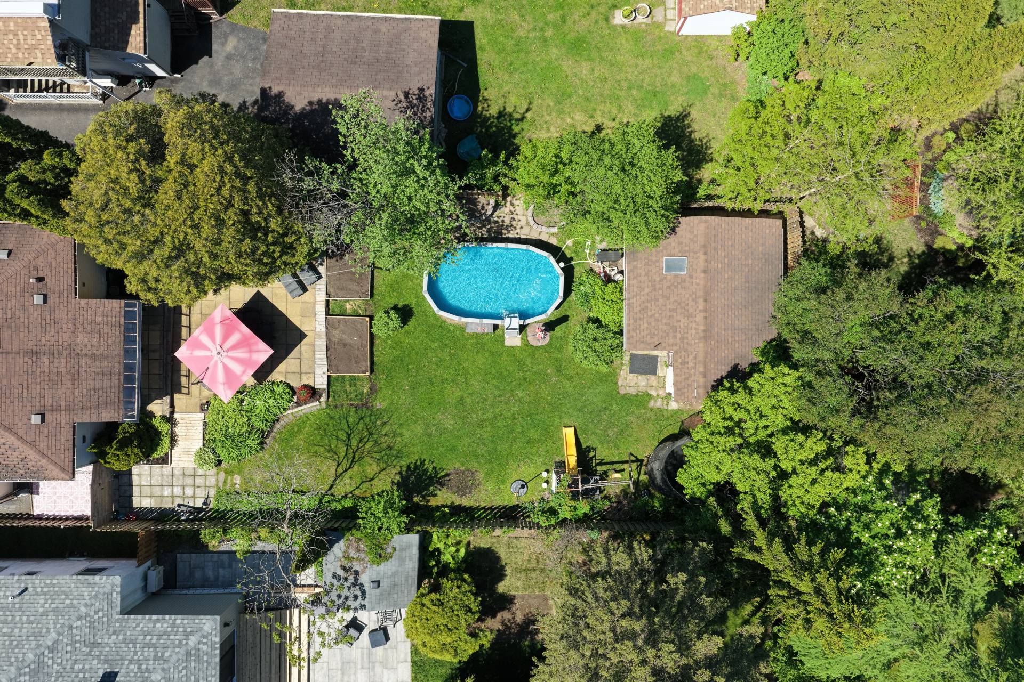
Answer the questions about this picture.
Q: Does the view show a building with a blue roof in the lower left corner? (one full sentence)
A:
No, there is no building with a blue roof in the lower left corner.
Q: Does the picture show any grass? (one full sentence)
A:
Yes, some grass is visible.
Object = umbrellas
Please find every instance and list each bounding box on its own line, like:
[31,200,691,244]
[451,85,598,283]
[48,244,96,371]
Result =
[169,304,273,402]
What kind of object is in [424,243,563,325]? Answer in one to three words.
swimming pool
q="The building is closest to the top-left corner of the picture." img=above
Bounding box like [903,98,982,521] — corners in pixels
[0,0,183,105]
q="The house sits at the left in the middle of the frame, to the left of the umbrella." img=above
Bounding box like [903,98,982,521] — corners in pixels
[0,225,159,484]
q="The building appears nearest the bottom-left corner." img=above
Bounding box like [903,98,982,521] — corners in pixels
[0,554,243,682]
